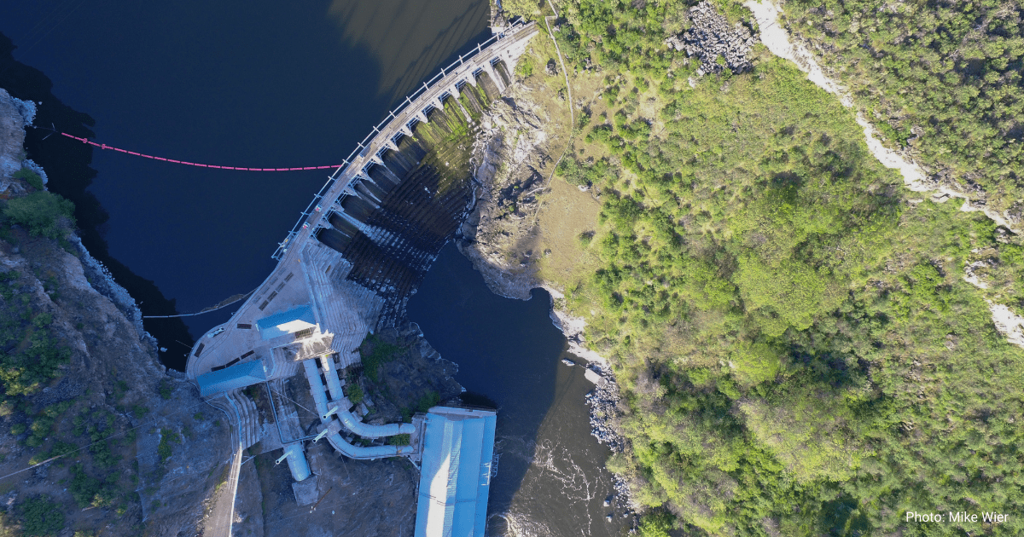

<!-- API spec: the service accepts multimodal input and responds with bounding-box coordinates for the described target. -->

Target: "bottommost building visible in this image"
[408,411,499,537]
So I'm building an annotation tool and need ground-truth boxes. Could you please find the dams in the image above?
[185,18,540,537]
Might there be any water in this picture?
Yes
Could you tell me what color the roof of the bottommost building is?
blue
